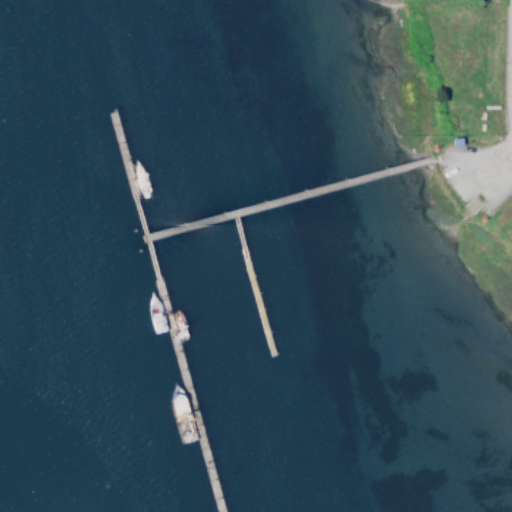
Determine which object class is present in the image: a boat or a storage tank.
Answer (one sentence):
It is a boat that can be seen here.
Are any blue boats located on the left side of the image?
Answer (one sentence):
No, the scene shows no blue boat on the left side of the image.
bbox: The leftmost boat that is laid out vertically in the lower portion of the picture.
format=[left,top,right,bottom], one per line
[150,290,169,334]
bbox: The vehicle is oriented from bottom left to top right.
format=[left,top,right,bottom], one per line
[445,165,462,178]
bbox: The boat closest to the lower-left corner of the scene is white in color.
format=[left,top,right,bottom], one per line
[172,384,202,444]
